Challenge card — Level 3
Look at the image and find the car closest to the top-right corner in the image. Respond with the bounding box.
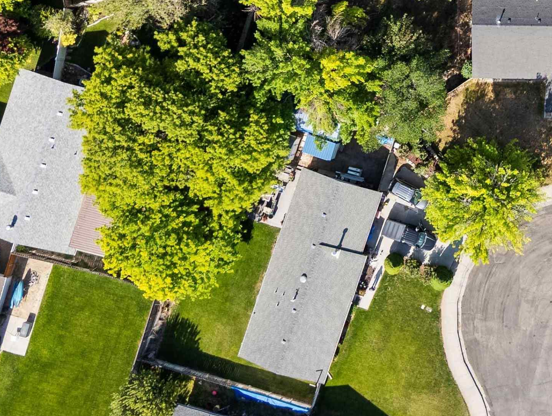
[387,178,433,213]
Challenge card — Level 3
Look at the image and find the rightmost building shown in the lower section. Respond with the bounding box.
[239,168,383,385]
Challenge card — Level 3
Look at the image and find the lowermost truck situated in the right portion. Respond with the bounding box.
[381,217,440,252]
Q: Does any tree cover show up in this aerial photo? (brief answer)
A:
Yes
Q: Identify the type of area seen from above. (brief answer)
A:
residential area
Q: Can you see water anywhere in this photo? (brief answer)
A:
No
